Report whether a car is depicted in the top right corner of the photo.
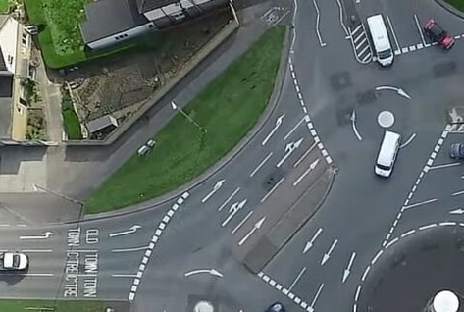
Yes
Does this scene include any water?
No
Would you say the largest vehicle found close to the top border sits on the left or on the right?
right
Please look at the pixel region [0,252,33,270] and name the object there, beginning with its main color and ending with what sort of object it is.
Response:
white vehicle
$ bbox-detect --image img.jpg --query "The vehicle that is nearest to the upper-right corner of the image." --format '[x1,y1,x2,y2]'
[425,19,455,50]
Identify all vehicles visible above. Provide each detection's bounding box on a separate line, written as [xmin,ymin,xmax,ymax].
[0,252,33,270]
[368,11,395,71]
[374,132,400,180]
[450,141,464,159]
[425,19,455,50]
